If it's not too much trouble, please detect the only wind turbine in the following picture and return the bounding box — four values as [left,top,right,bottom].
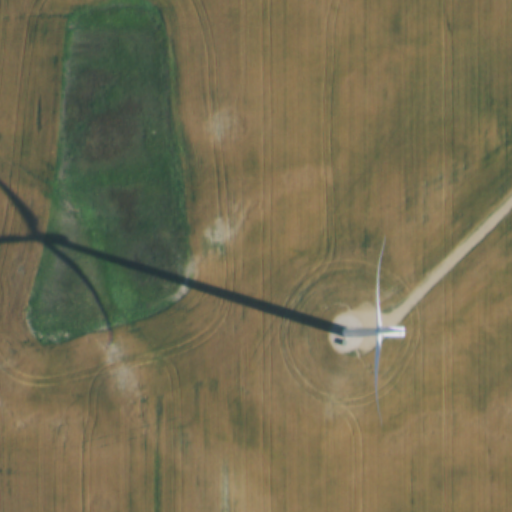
[338,236,406,422]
